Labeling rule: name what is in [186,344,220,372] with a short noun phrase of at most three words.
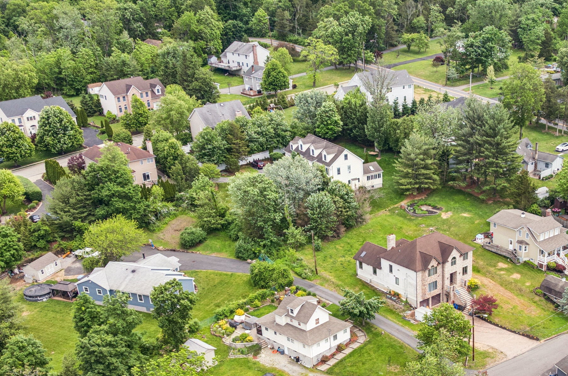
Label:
shed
